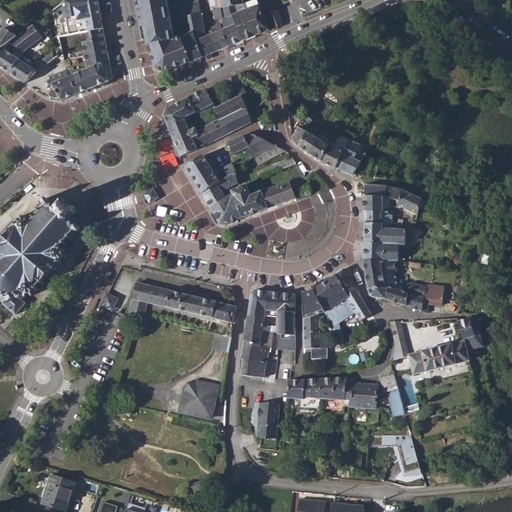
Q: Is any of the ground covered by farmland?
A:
No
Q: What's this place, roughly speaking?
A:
residential area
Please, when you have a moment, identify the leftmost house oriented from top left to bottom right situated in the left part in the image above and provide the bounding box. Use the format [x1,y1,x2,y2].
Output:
[0,44,35,82]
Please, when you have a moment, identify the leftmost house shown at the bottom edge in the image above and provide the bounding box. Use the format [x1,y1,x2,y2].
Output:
[38,474,74,512]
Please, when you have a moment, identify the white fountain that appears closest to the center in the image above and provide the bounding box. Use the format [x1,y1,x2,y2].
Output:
[277,212,300,228]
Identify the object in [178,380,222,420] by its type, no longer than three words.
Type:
barn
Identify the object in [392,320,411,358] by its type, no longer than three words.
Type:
shed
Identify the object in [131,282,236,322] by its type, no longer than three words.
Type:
building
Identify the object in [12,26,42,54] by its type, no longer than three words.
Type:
house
